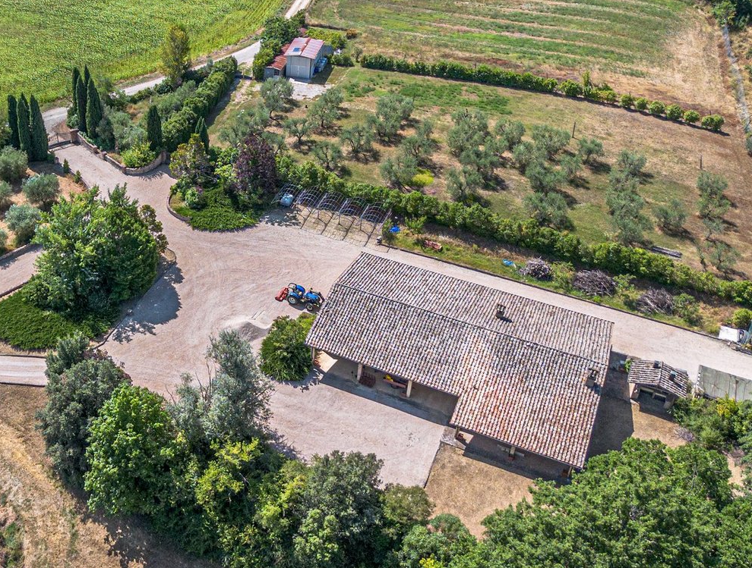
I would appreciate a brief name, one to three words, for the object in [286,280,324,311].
work vehicle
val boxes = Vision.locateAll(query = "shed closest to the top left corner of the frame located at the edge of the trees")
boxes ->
[272,43,336,79]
